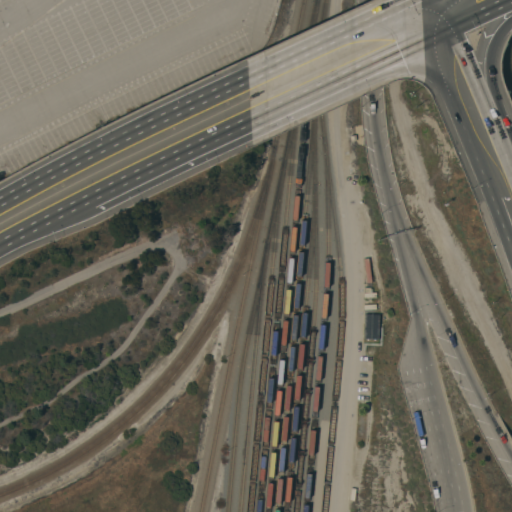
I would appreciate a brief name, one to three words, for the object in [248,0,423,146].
overpass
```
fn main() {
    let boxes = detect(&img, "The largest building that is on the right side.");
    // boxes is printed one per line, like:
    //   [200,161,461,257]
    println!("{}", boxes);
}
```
[366,312,381,340]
